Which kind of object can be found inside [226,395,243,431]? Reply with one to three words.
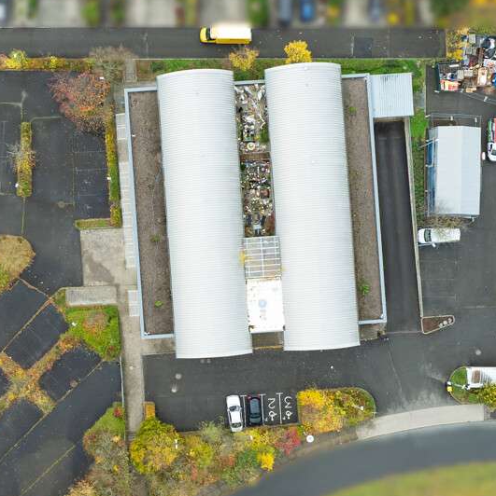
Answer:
car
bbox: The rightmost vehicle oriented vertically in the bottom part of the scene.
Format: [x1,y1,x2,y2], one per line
[246,395,263,427]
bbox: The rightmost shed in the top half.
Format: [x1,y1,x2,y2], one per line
[429,126,481,217]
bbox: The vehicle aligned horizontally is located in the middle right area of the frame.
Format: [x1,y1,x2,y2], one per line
[414,227,461,246]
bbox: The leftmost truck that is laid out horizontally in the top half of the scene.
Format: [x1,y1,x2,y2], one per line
[198,24,254,46]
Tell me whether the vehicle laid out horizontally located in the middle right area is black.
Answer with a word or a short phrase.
No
